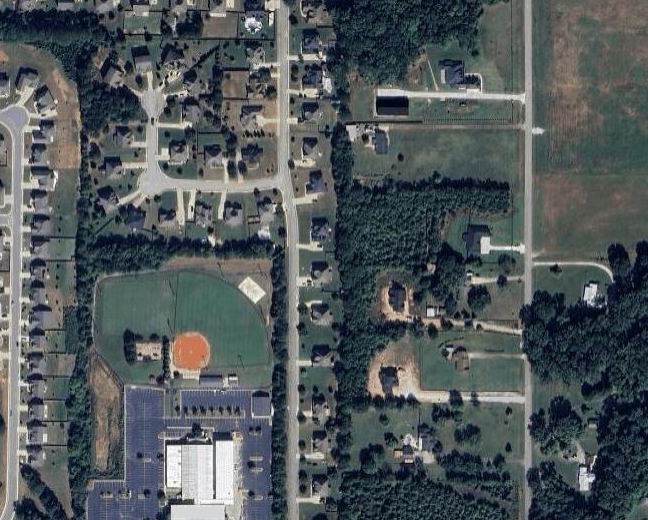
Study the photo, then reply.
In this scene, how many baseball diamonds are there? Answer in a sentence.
The count comes to 1 baseball diamond.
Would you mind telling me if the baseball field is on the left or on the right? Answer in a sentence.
The baseball field appears in the left half of the scene.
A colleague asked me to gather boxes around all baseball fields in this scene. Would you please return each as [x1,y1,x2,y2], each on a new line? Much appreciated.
[170,270,269,387]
